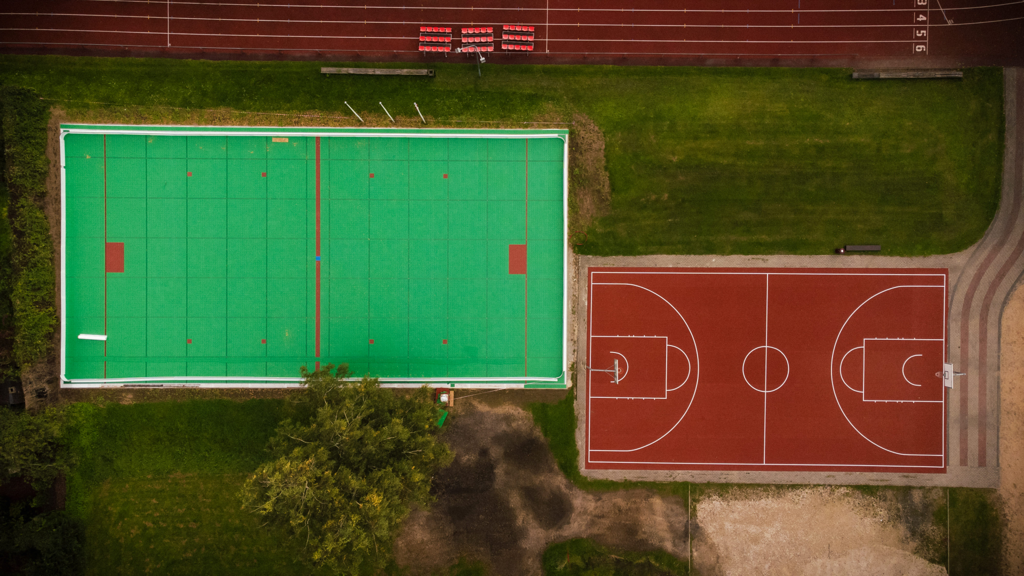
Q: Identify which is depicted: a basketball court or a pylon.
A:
basketball court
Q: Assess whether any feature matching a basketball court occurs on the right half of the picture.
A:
Yes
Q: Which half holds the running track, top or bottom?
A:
top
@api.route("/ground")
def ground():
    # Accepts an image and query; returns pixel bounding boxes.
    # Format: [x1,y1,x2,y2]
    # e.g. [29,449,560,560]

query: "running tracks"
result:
[0,0,1024,69]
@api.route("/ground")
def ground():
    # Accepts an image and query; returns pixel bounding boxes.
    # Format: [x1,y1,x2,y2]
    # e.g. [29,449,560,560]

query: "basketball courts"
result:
[585,268,949,473]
